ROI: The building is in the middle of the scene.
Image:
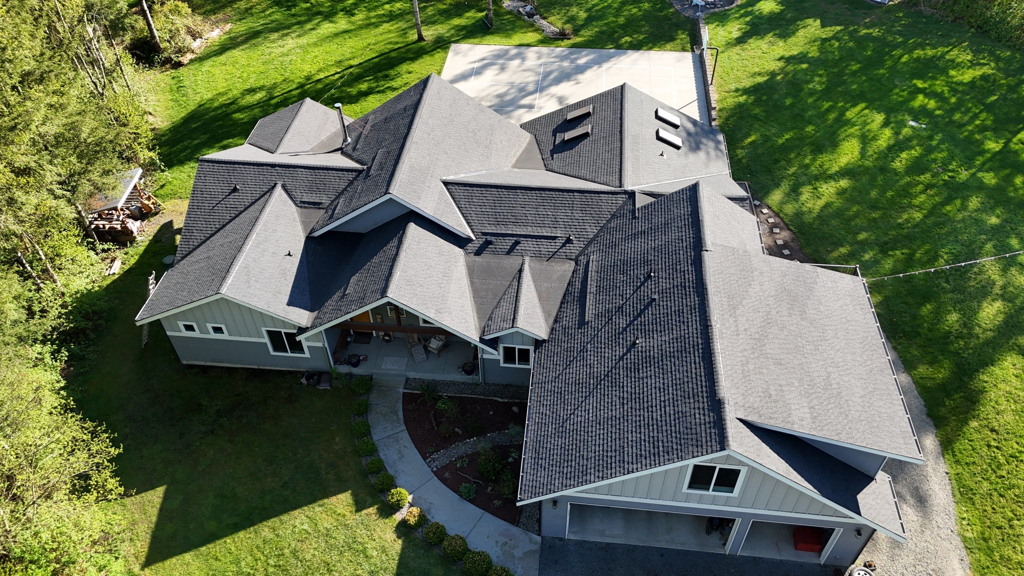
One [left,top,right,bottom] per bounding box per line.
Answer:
[135,72,928,565]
